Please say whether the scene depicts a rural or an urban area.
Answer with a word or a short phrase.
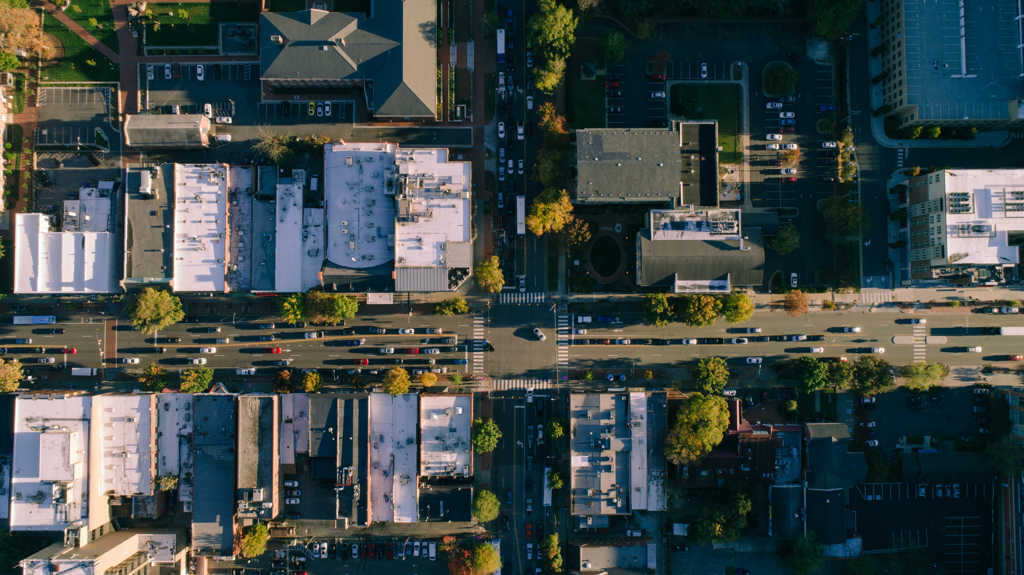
urban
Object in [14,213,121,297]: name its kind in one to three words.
building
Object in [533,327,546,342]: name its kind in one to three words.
vehicle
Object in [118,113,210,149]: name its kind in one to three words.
house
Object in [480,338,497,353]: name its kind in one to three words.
vehicle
